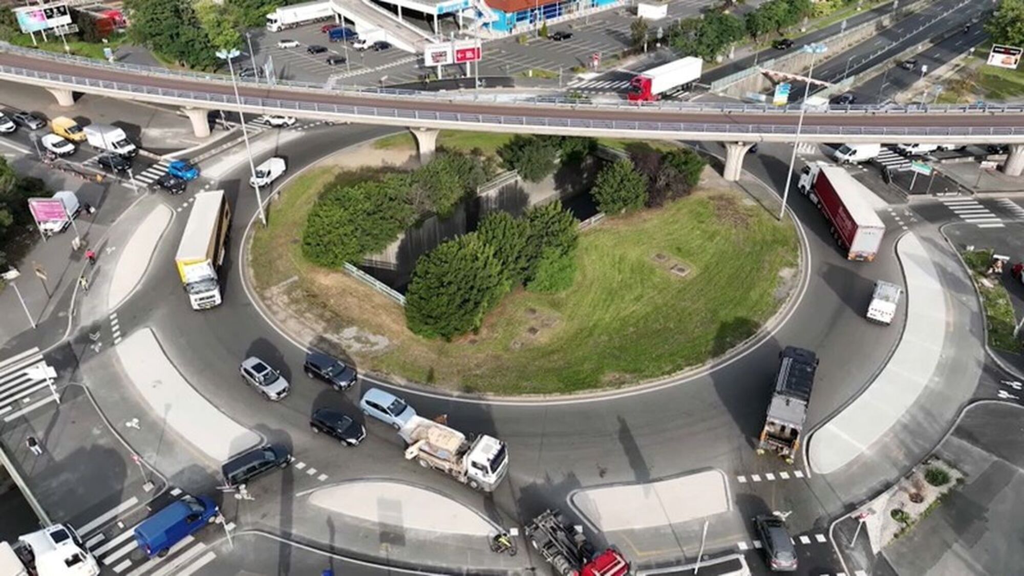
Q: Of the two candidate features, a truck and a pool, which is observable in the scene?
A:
truck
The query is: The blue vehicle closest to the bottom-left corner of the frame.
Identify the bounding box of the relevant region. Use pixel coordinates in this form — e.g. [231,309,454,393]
[134,494,218,554]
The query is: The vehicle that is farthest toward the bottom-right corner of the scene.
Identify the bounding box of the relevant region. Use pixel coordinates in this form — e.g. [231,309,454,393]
[755,514,798,572]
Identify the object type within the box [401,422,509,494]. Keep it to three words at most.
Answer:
truck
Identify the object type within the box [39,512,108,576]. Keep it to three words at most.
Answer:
vehicle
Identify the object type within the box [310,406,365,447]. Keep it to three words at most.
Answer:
car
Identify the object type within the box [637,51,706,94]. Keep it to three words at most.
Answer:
trailer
